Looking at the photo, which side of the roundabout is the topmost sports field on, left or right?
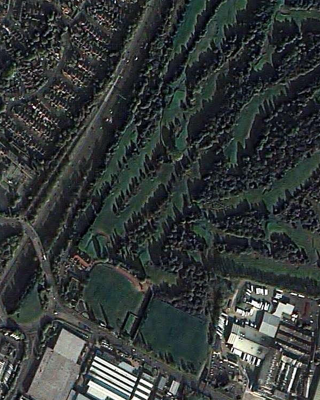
right of it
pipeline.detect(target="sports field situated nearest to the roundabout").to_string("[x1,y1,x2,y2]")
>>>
[85,264,143,330]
